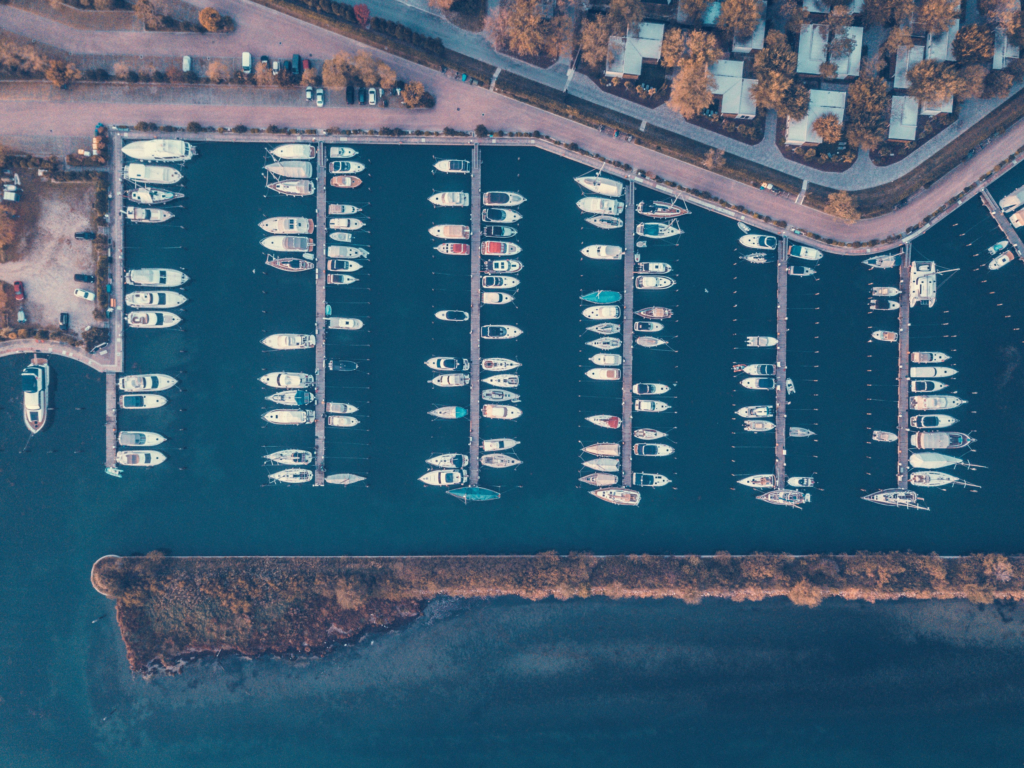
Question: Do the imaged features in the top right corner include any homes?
Yes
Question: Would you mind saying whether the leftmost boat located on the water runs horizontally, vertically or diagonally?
vertically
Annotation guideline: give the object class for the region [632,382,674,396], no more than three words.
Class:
boat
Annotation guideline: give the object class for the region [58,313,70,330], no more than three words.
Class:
vehicle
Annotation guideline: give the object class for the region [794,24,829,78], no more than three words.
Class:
house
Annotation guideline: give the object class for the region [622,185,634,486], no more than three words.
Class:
pier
